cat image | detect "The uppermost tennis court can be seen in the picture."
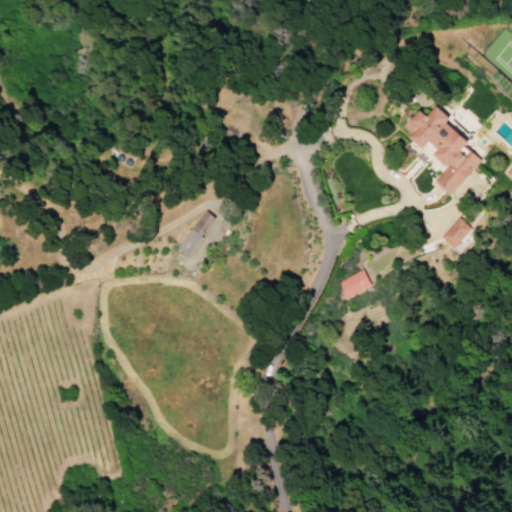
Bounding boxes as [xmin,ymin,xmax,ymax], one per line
[486,34,512,80]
